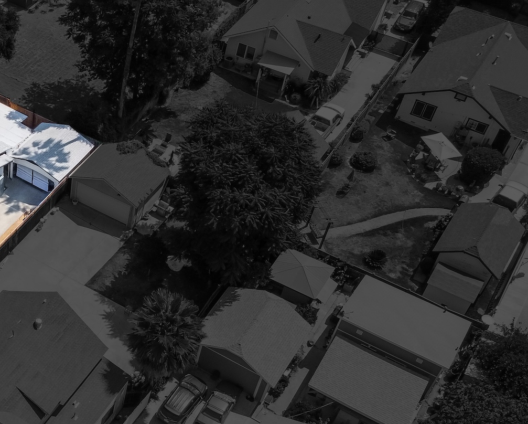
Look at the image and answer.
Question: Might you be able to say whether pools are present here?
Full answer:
No, no pool can be seen from above.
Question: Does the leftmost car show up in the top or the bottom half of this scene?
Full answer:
The leftmost car sits in the bottom half of the picture.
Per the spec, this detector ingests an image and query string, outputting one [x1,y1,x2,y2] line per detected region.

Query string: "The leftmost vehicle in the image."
[155,375,204,424]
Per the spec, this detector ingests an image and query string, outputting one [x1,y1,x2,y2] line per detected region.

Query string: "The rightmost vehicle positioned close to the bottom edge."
[194,383,239,424]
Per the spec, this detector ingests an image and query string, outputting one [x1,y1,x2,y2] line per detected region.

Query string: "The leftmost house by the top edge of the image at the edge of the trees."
[221,0,396,98]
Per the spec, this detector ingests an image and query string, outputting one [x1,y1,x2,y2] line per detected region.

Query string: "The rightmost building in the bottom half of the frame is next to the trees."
[423,201,526,317]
